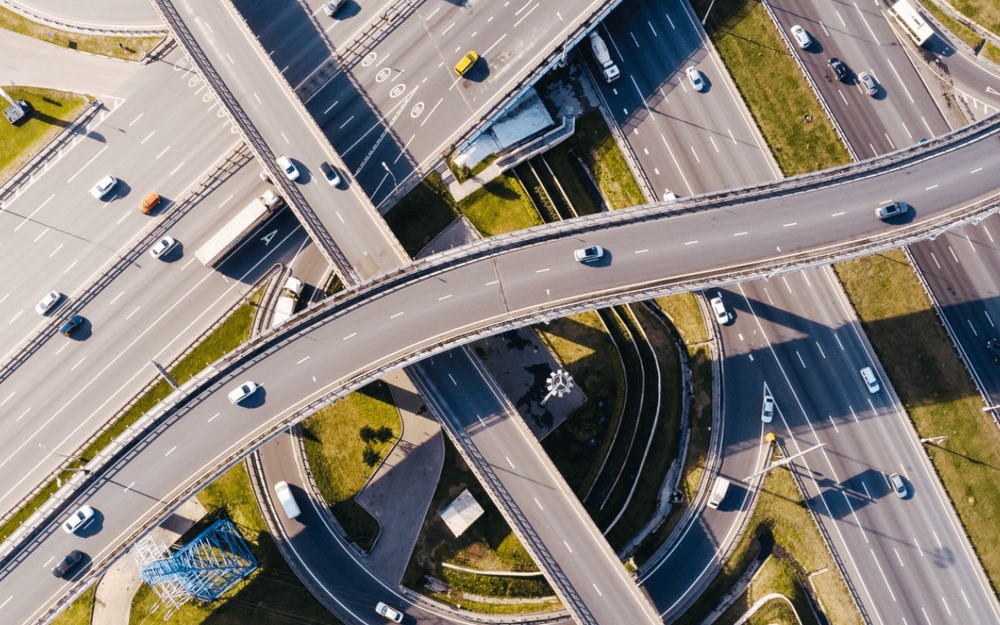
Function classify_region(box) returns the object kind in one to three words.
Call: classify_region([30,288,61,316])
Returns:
car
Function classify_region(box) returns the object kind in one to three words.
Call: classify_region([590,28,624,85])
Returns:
truck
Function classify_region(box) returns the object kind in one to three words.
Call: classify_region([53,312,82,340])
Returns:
car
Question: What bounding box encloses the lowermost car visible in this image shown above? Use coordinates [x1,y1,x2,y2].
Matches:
[373,601,405,625]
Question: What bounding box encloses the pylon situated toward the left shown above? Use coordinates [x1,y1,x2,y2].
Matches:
[127,514,263,618]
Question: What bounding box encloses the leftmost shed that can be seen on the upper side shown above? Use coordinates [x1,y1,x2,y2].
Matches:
[453,132,501,170]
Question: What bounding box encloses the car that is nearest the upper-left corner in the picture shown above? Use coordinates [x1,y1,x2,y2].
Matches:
[87,172,116,200]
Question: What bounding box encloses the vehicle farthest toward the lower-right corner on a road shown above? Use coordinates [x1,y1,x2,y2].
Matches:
[888,471,910,503]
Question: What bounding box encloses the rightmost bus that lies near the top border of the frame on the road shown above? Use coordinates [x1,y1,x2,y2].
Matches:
[891,0,936,46]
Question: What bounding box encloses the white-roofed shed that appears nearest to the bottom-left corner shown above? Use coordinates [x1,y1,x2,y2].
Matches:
[440,489,483,538]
